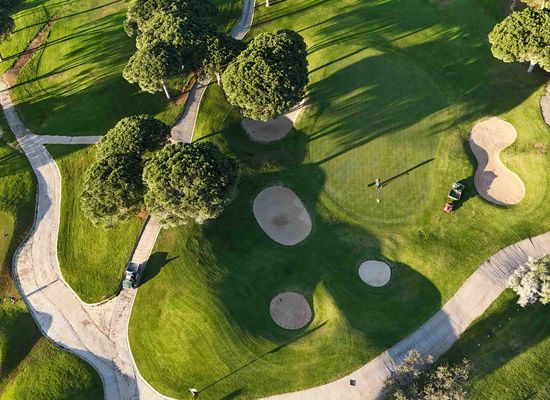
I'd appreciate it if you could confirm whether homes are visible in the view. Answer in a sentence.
No, there's no home here.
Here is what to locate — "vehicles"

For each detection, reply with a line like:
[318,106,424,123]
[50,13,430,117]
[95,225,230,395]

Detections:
[122,261,141,289]
[449,180,465,199]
